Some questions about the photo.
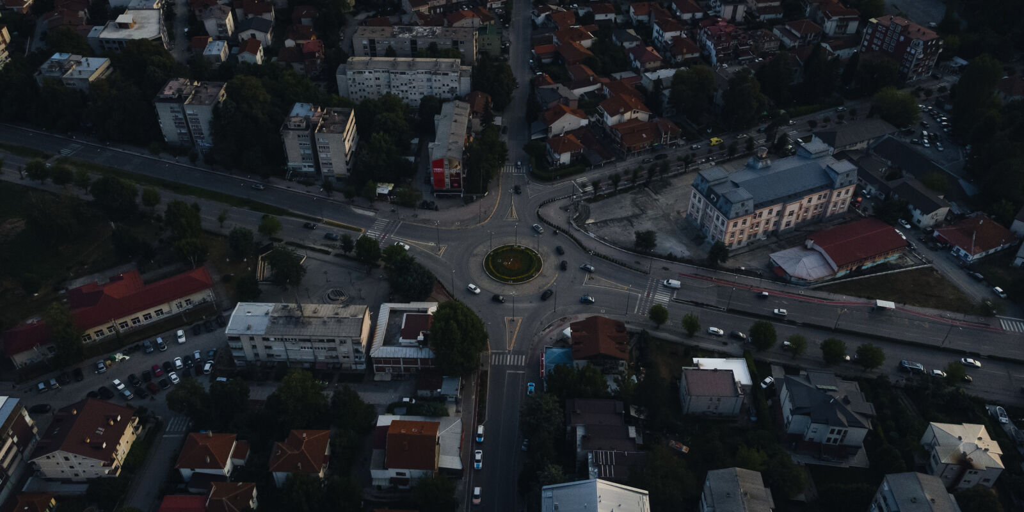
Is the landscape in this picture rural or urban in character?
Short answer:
urban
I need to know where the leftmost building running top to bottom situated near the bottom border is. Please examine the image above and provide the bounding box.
[0,398,43,492]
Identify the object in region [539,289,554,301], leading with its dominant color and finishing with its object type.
black vehicle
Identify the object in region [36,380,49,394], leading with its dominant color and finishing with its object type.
blue vehicle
